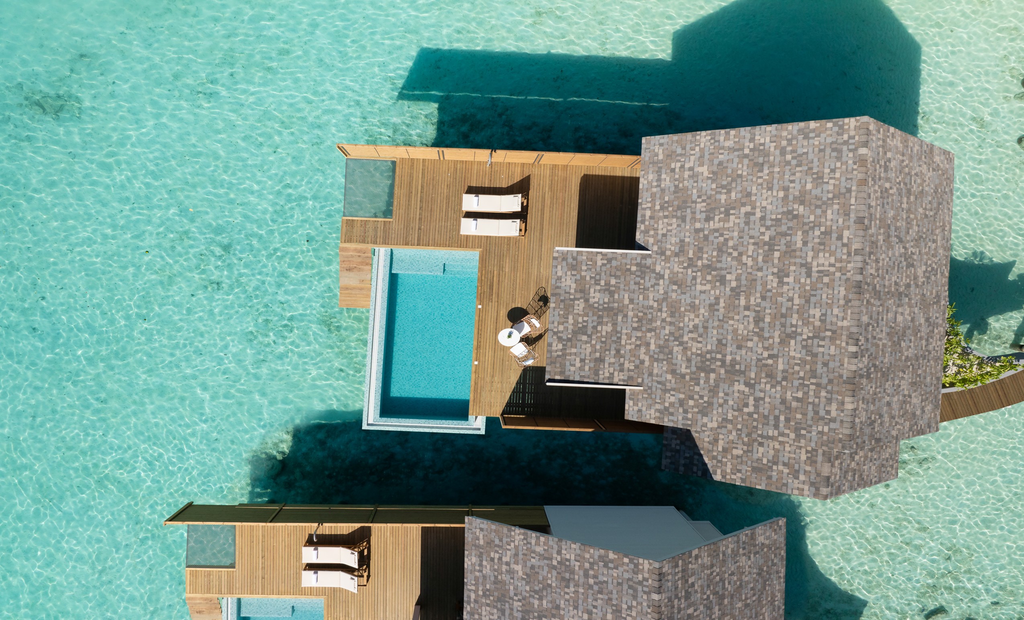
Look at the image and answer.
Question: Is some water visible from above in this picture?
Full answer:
Yes, some water is visible.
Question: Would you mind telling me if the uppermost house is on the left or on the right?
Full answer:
The uppermost house sits on the right side.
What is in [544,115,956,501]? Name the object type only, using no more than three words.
house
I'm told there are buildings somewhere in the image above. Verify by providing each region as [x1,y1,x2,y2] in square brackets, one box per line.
[544,115,956,501]
[465,506,782,620]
